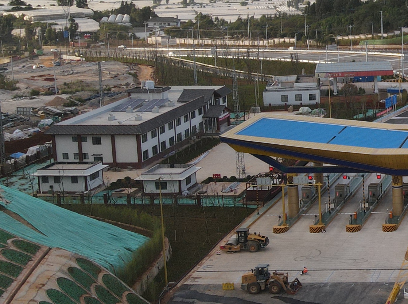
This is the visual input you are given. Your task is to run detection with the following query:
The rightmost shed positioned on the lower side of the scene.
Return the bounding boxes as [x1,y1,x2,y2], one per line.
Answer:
[228,171,292,206]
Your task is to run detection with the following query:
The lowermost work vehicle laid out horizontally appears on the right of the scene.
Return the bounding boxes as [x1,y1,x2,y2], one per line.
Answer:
[238,261,314,294]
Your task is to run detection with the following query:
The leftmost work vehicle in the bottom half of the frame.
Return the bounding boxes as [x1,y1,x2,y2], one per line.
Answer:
[212,226,276,254]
